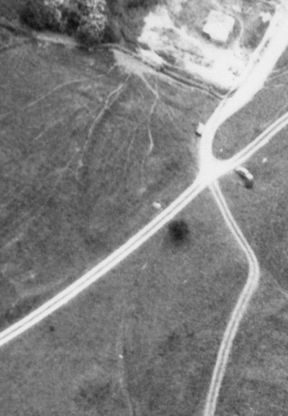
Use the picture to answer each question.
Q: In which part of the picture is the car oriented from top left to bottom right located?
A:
right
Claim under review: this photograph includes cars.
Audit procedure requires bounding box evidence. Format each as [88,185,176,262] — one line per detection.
[195,121,209,137]
[235,164,256,184]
